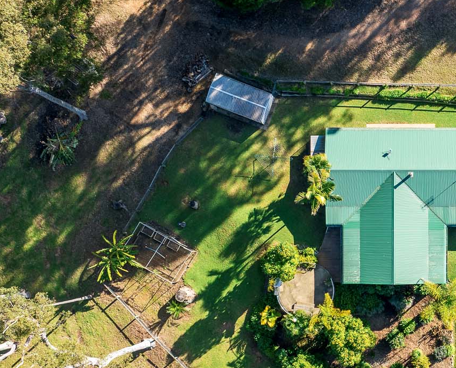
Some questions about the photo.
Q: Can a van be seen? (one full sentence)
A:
No, I find no van anywhere in the image.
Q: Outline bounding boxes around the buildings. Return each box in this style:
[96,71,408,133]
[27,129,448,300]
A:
[204,73,277,126]
[325,126,456,285]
